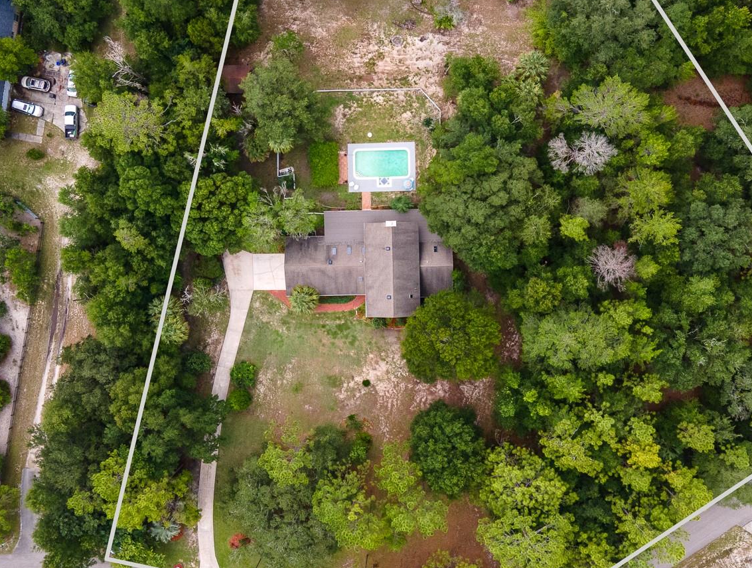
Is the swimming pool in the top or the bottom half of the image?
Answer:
top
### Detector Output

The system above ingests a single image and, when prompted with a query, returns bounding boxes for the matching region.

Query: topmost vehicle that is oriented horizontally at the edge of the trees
[21,76,52,93]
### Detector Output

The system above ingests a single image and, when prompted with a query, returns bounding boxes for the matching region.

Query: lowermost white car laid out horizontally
[11,100,45,117]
